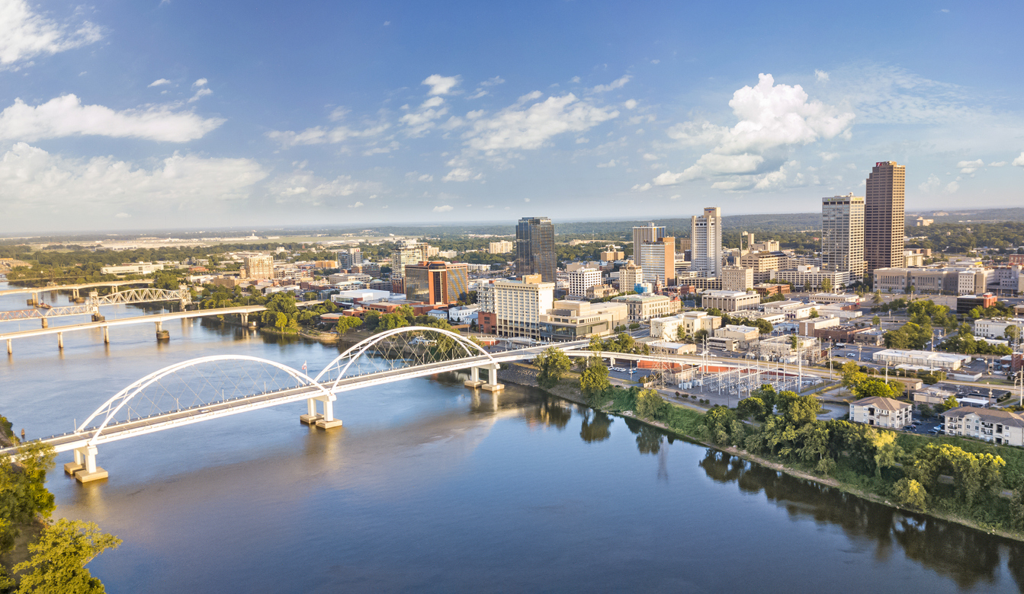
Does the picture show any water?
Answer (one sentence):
Yes, there's water in this view.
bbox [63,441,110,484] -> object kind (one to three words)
pier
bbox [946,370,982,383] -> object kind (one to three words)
building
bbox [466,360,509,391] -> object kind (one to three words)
pier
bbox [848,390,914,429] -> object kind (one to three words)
house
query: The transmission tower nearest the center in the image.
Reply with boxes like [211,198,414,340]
[654,338,670,386]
